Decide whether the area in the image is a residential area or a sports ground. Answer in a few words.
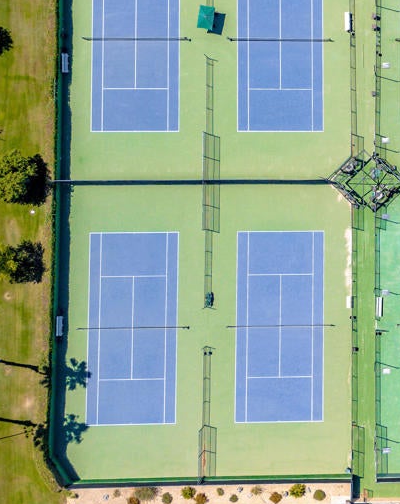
sports ground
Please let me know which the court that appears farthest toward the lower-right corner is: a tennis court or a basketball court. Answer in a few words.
tennis court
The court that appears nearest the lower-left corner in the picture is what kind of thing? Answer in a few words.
tennis court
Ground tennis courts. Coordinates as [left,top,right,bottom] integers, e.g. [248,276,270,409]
[91,0,180,132]
[235,231,324,423]
[237,0,324,132]
[86,232,179,426]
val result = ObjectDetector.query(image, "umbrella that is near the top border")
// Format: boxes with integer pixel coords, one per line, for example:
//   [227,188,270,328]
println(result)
[197,5,215,30]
